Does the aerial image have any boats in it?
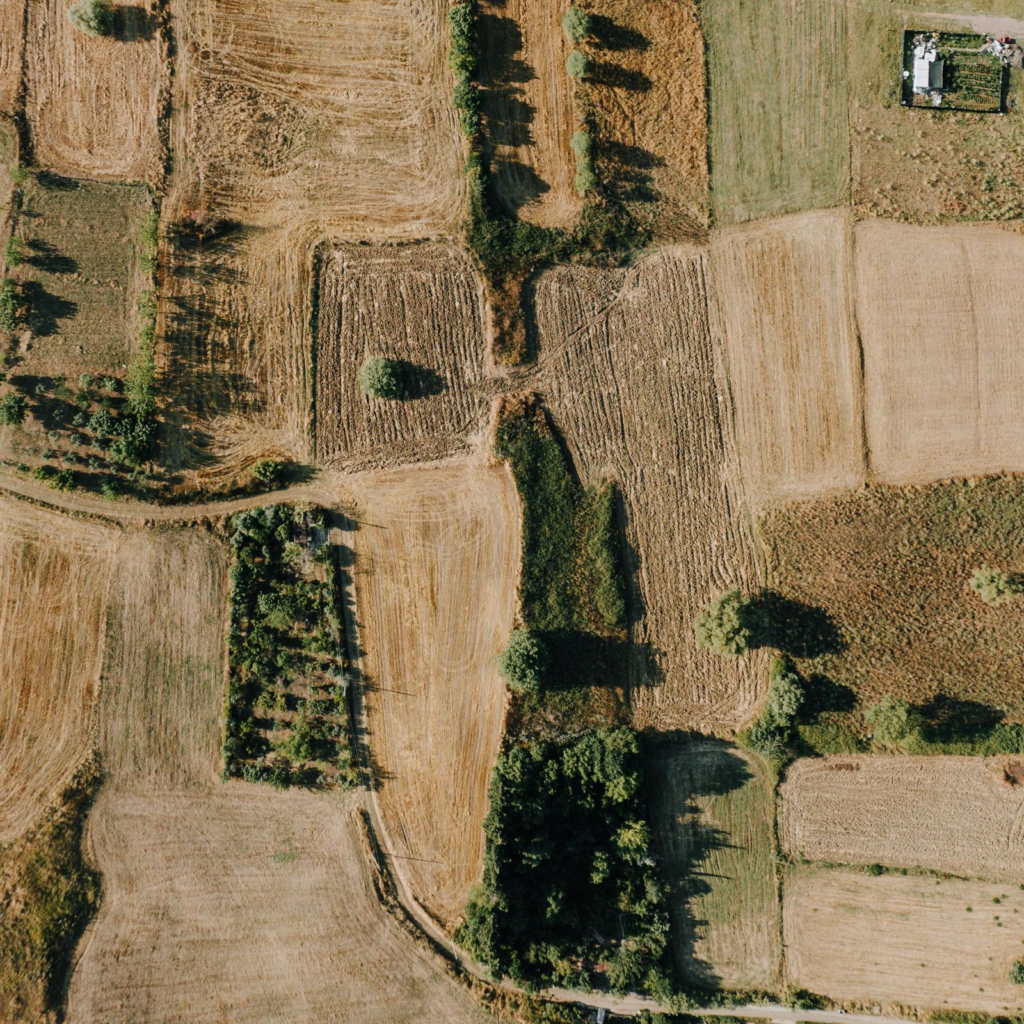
No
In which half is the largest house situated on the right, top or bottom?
top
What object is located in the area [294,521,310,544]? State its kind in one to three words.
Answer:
shed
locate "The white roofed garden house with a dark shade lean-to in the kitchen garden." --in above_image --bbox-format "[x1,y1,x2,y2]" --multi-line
[912,60,941,92]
